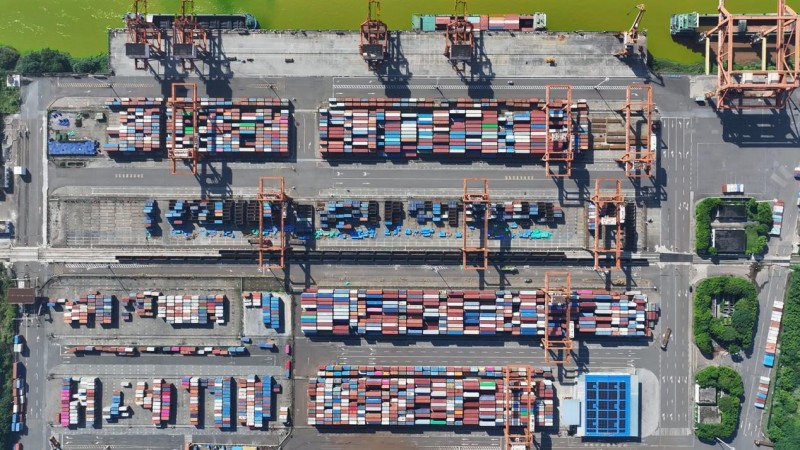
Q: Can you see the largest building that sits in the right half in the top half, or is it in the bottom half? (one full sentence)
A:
You can find the largest building that sits in the right half in the bottom half.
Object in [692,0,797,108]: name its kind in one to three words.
crane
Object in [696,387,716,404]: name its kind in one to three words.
shed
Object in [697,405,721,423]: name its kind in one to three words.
shed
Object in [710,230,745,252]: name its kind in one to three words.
building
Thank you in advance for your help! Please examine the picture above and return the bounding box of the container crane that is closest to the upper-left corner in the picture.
[122,0,170,71]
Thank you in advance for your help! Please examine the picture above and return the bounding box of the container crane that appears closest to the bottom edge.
[497,366,536,450]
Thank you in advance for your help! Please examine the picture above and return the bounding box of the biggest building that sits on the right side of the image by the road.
[576,372,640,436]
